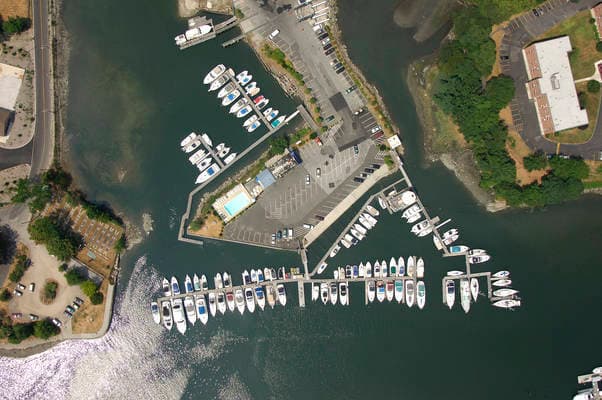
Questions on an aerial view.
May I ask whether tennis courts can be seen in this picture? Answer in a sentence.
No, this view has no tennis court in it.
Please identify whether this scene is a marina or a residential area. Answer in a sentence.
The area seen from above is a marina.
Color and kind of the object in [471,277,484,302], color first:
white boat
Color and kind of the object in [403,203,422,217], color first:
white boat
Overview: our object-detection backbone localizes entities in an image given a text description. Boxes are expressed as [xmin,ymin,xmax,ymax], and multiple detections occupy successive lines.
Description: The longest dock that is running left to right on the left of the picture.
[158,266,305,324]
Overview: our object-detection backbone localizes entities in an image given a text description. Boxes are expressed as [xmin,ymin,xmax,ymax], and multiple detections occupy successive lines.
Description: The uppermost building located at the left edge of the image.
[0,62,29,111]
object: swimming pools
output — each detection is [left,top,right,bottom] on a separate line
[213,184,255,224]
